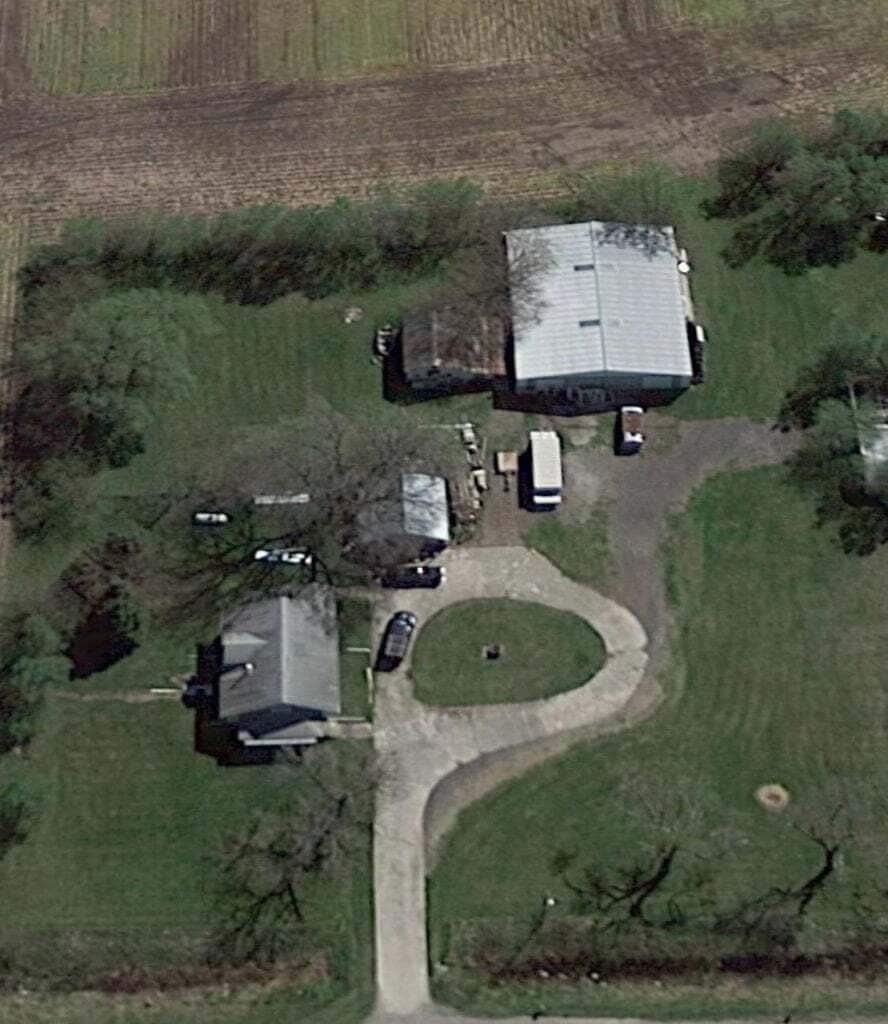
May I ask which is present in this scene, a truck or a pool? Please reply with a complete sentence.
The one in the frame is a truck.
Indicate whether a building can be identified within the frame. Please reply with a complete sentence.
Yes, I can see a building in this picture.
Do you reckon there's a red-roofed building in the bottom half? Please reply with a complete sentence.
No, looking in the bottom half, there is no red-roofed building.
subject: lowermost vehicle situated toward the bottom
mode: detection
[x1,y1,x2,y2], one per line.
[382,614,415,668]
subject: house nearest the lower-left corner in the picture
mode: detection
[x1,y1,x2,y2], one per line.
[185,595,340,750]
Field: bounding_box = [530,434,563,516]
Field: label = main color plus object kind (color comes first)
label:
white truck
